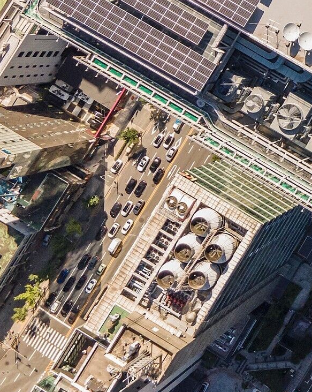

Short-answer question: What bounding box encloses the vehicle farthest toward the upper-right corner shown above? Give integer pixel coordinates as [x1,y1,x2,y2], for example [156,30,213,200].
[168,113,186,133]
